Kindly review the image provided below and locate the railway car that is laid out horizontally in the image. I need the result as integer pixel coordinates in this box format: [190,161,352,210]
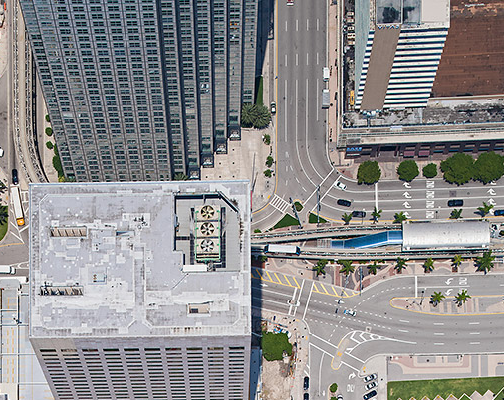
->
[265,244,300,257]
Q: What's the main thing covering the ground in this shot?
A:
buildings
